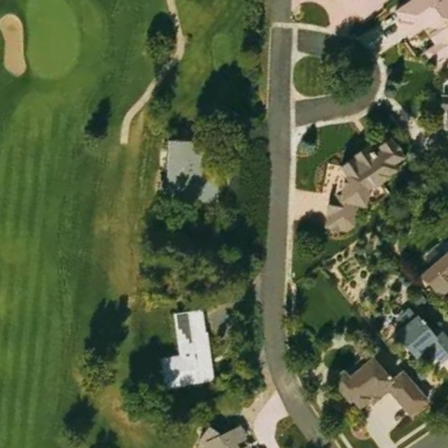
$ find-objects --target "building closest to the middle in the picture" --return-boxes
[168,141,218,206]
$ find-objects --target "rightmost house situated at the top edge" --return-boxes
[397,0,448,68]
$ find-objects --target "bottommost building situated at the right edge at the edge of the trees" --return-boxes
[340,358,429,416]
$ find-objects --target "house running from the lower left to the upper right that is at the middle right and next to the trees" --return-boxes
[325,140,407,234]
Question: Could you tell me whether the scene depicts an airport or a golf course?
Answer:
golf course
